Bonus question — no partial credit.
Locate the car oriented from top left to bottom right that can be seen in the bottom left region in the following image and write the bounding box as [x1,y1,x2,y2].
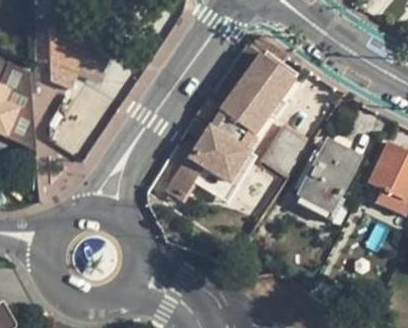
[66,274,90,293]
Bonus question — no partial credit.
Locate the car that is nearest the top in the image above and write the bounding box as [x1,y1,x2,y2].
[306,43,327,60]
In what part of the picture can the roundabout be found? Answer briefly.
bottom left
